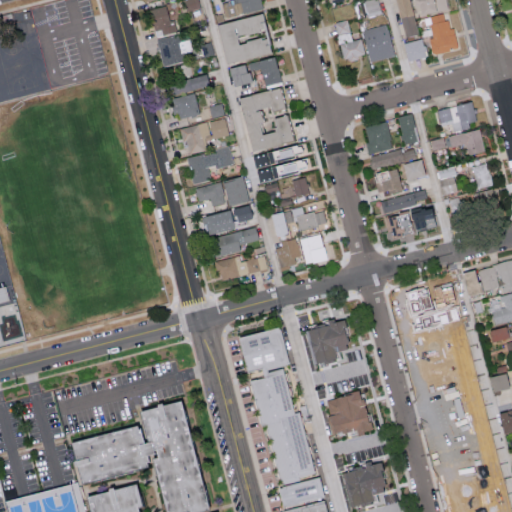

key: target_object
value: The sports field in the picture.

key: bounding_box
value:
[0,78,167,340]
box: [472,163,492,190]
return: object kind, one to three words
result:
house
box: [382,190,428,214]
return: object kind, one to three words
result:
building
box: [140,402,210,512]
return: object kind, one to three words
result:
building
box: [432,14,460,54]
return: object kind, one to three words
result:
house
